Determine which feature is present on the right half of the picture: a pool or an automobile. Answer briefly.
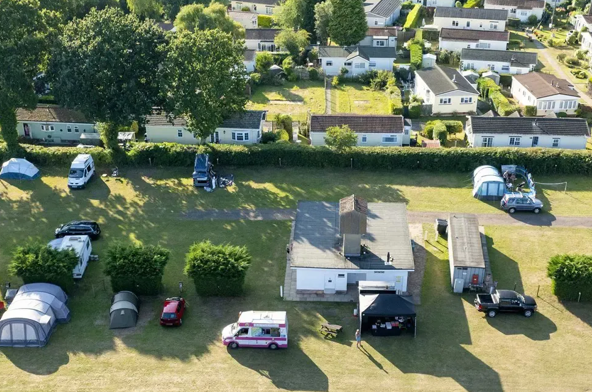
automobile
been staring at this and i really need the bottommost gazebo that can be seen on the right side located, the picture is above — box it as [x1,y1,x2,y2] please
[359,296,419,337]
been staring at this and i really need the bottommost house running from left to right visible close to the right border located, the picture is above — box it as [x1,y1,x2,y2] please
[461,115,591,150]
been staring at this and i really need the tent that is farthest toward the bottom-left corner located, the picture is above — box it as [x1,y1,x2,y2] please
[0,281,78,349]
